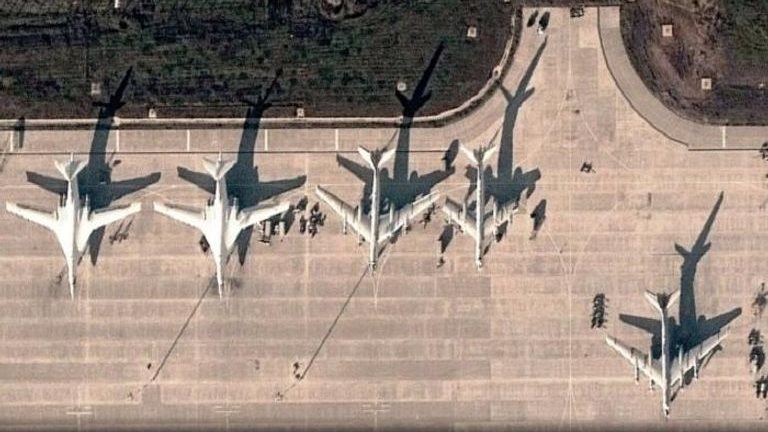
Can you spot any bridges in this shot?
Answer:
No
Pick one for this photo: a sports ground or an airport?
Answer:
airport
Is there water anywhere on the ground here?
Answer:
No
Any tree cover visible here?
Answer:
No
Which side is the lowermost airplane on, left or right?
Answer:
right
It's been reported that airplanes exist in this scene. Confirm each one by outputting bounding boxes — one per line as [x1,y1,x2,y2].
[5,151,137,298]
[442,142,519,272]
[603,287,726,418]
[154,152,286,300]
[315,142,438,277]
